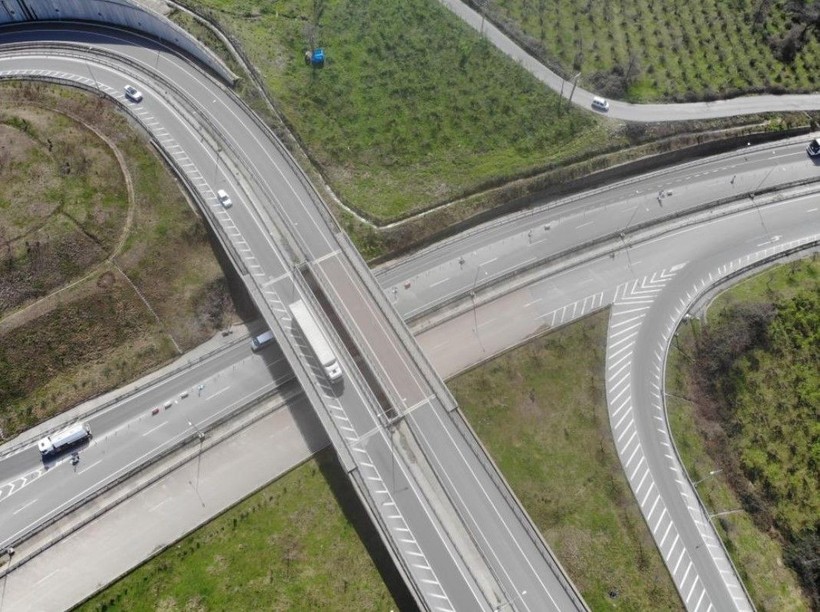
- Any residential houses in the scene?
No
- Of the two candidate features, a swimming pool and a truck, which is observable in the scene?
truck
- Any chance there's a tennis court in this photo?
No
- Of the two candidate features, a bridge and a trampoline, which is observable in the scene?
bridge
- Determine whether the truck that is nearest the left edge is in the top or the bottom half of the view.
bottom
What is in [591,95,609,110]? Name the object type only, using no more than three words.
car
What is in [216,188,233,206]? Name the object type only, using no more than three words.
car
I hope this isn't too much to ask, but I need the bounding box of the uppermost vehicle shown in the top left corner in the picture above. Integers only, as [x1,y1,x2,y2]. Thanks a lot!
[123,85,142,99]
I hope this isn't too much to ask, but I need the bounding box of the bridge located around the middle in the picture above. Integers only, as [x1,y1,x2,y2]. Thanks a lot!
[233,220,458,472]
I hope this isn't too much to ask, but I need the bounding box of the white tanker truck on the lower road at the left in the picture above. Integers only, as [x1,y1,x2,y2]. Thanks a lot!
[34,427,98,463]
